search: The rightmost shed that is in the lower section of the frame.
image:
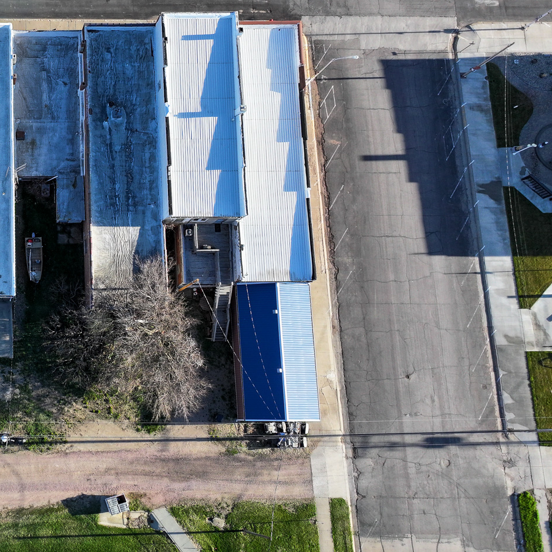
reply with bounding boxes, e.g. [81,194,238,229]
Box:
[224,282,321,422]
